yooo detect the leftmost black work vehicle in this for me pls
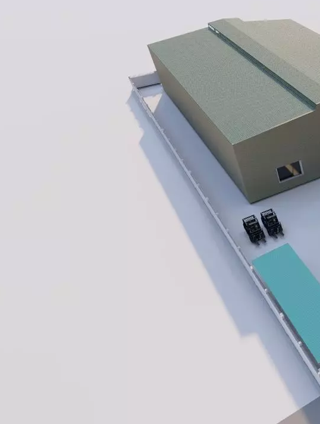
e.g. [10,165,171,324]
[244,214,265,244]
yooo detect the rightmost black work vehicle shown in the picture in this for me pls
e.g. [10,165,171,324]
[262,208,283,238]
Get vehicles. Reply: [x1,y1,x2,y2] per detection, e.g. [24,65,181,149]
[262,208,283,238]
[244,214,265,244]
